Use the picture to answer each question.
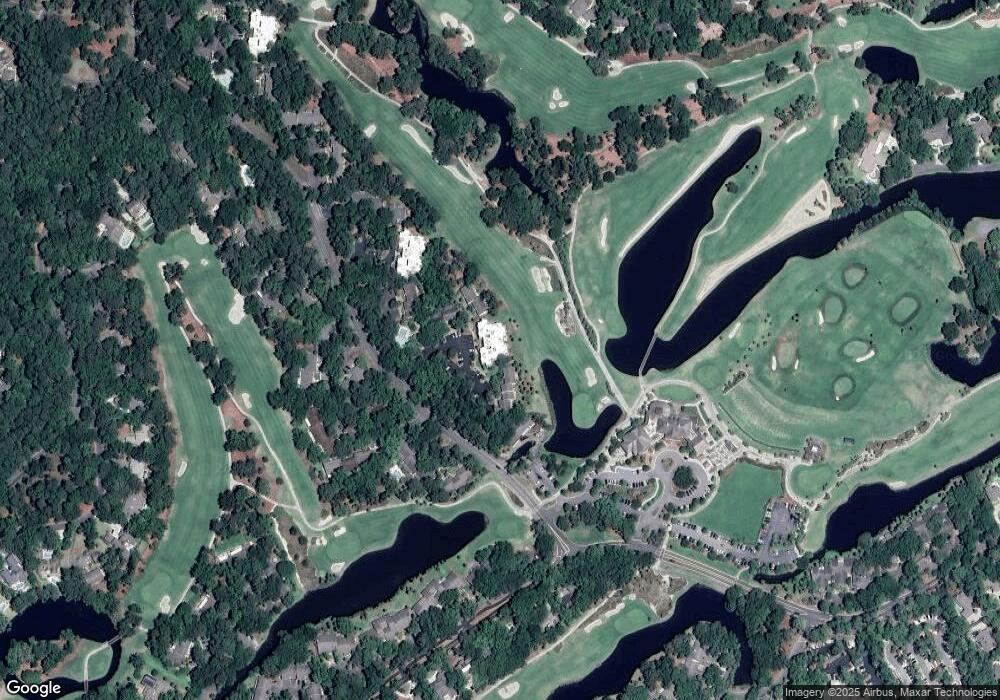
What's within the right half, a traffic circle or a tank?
traffic circle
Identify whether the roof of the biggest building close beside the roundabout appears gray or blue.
gray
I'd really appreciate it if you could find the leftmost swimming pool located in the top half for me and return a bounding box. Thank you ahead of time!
[119,230,135,248]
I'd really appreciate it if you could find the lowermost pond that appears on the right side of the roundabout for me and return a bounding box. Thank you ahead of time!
[755,442,1000,582]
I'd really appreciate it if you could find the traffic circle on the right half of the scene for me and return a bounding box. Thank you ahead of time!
[632,449,711,551]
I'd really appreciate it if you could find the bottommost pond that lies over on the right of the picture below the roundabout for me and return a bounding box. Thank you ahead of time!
[546,586,752,700]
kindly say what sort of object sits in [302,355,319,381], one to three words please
house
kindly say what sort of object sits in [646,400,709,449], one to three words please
building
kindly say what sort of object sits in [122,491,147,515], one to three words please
house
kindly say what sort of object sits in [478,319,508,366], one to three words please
building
